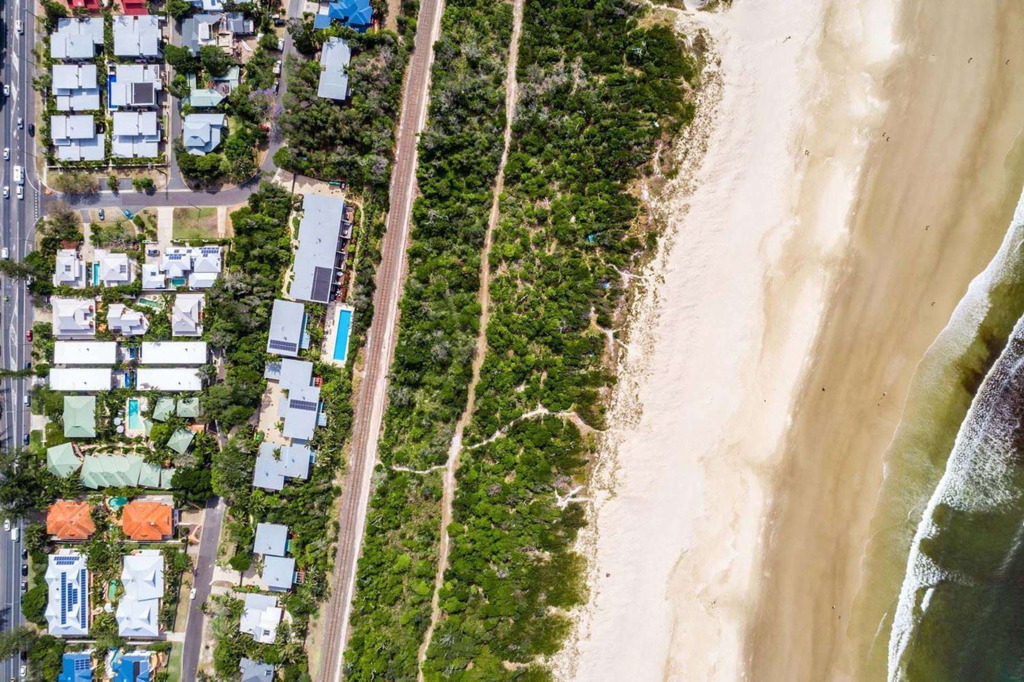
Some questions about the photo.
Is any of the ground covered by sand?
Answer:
Yes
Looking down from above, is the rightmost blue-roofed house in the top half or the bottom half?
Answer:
top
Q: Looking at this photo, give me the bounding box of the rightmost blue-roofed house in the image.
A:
[315,0,372,32]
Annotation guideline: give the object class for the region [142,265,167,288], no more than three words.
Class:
house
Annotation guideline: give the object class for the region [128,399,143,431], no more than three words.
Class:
swimming pool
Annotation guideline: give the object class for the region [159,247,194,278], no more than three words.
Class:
house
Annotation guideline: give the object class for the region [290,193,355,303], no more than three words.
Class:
building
